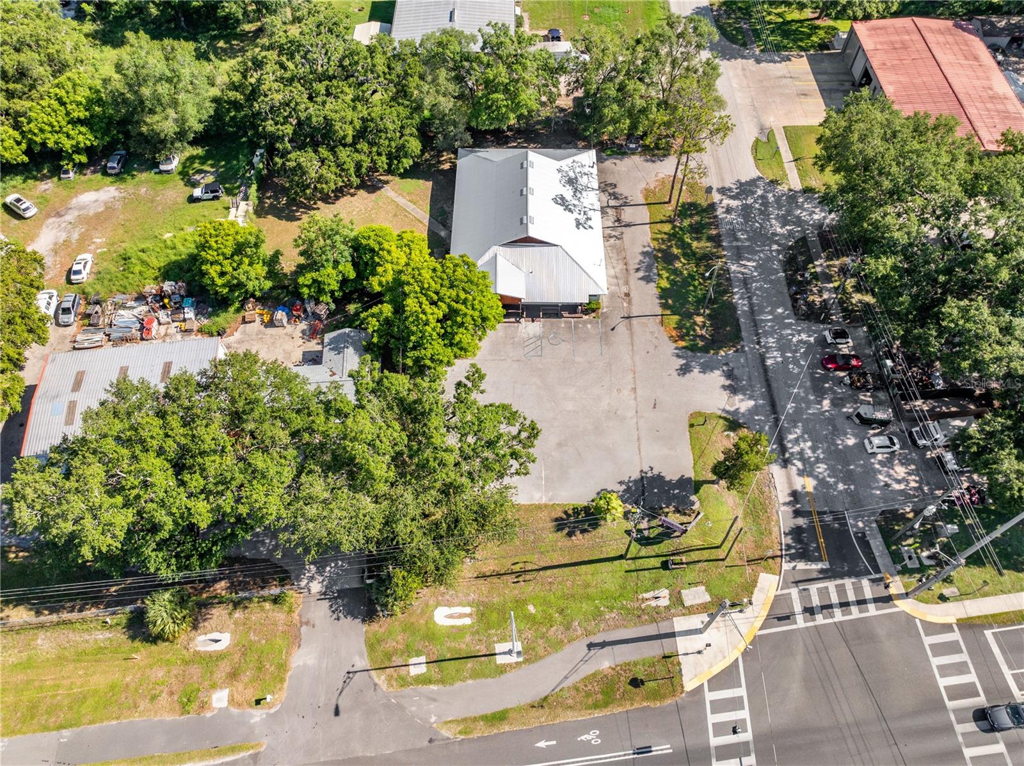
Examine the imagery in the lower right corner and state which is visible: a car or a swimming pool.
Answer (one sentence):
The one visible in the lower right corner is a car.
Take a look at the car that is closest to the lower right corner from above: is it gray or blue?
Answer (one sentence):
The color of the car that is closest to the lower right corner is gray.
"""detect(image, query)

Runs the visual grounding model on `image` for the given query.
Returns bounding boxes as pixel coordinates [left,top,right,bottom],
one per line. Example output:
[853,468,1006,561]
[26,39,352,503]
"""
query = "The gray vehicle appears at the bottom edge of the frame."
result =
[984,701,1024,728]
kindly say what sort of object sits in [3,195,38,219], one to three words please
car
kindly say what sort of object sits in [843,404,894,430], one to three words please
trailer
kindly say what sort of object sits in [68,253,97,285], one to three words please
car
